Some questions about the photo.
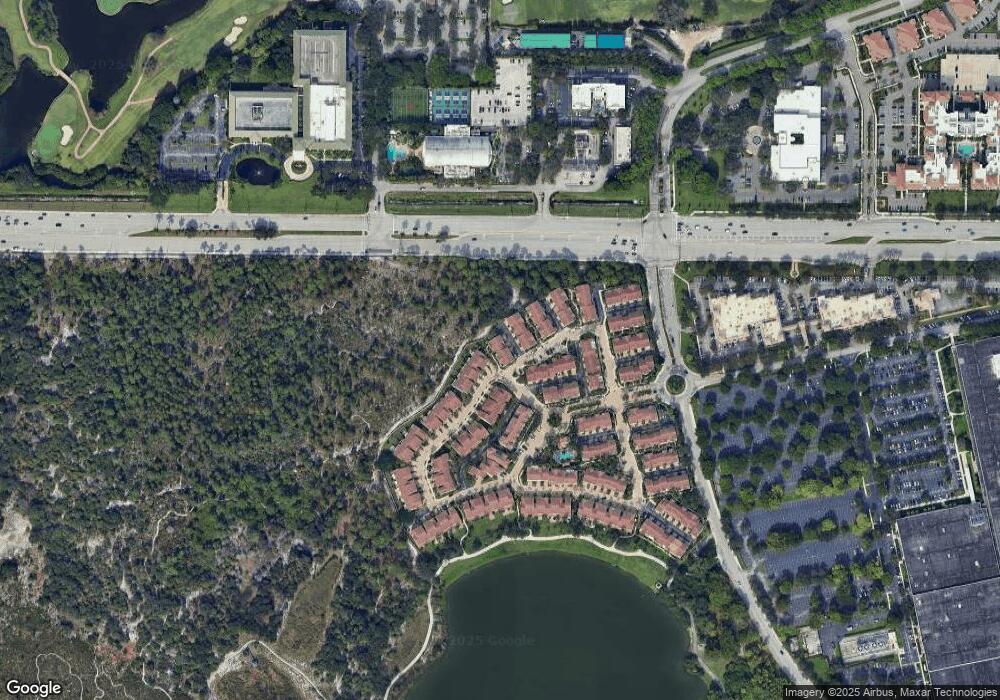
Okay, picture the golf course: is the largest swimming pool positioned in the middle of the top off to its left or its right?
to the right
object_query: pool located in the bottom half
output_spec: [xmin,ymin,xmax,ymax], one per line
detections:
[554,447,576,462]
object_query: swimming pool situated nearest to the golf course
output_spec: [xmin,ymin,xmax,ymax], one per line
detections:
[384,139,424,166]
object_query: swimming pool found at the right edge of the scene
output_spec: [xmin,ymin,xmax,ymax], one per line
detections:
[952,138,979,160]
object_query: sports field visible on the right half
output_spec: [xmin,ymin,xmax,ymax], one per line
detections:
[492,0,769,27]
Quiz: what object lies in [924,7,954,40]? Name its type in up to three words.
house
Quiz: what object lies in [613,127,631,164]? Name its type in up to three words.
building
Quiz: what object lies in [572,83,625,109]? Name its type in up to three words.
building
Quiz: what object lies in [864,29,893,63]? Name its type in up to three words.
house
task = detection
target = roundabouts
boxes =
[658,365,692,400]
